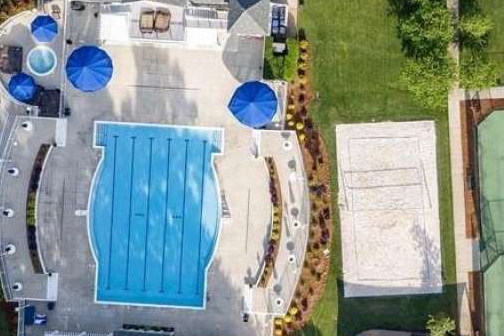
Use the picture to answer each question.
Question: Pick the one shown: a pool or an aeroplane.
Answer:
pool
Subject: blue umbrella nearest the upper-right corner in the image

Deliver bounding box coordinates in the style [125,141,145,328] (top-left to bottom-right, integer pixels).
[230,82,277,128]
